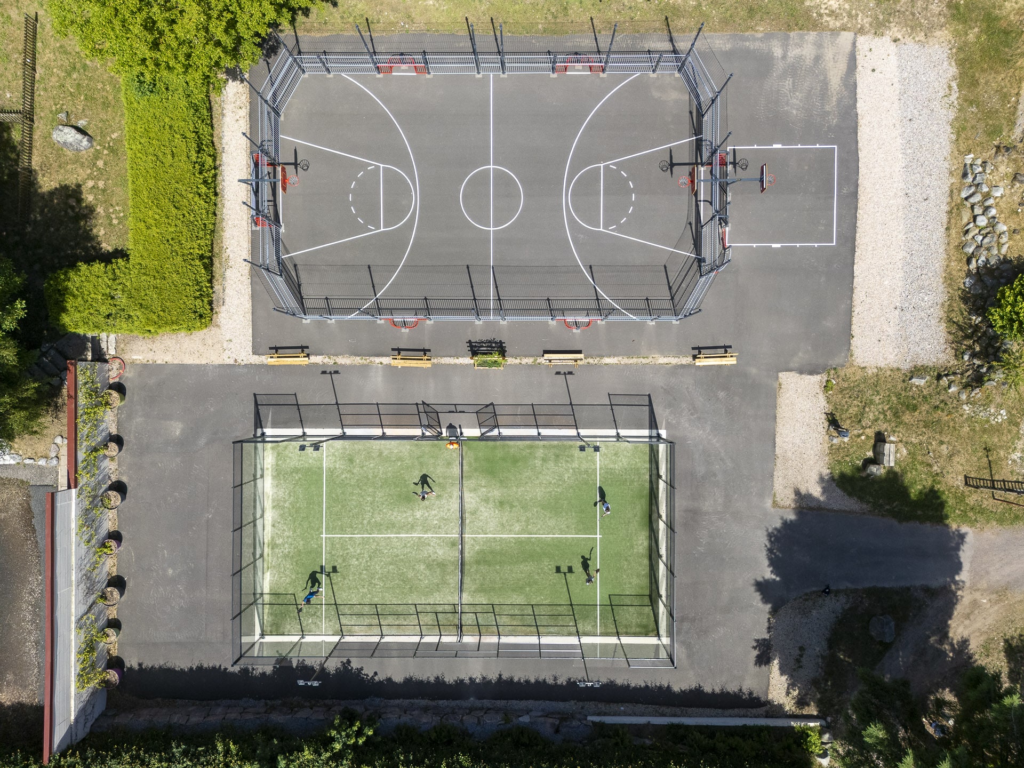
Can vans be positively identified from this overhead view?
No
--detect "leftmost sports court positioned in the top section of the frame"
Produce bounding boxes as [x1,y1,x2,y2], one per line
[280,72,703,321]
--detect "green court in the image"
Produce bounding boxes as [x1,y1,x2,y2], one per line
[232,421,676,668]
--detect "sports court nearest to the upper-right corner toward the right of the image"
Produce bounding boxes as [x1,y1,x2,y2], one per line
[727,144,836,247]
